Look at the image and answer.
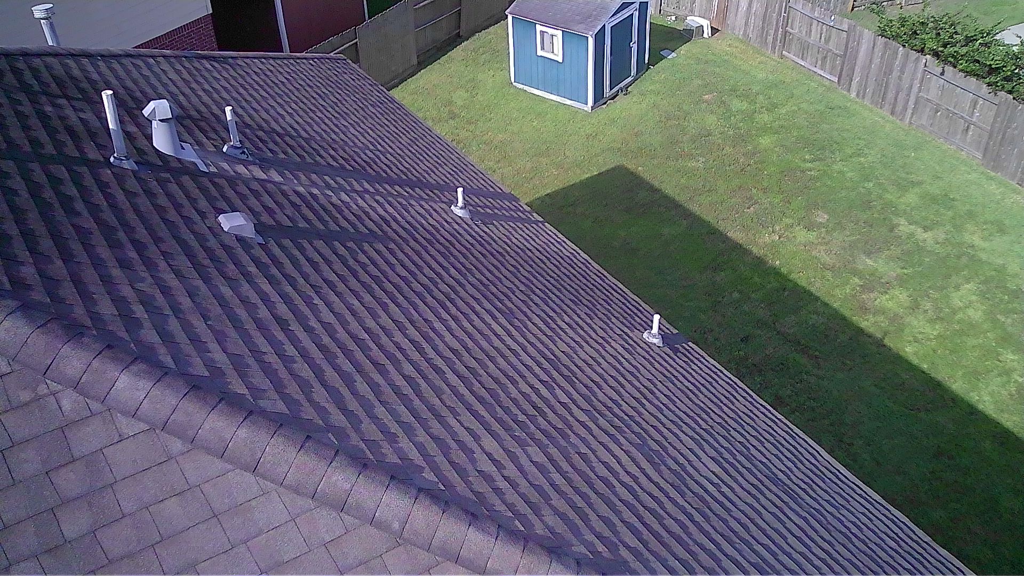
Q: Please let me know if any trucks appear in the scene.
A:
No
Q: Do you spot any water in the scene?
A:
No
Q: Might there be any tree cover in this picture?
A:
No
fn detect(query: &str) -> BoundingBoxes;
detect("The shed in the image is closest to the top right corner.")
[506,0,654,111]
